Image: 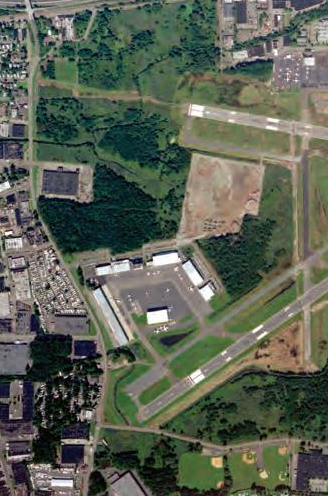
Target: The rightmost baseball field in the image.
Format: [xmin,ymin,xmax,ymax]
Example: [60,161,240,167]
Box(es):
[264,445,289,486]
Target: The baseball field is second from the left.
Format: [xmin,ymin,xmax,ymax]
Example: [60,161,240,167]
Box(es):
[231,449,268,492]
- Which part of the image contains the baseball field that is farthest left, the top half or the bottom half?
bottom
